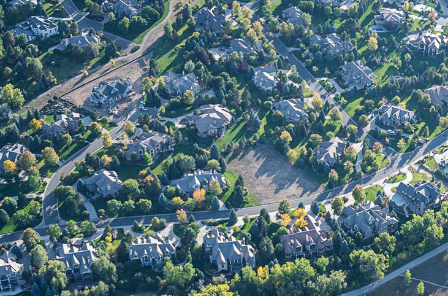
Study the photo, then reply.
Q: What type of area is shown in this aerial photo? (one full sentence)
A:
The picture captures a residential area.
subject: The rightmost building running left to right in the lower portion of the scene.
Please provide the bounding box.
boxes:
[392,181,443,210]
